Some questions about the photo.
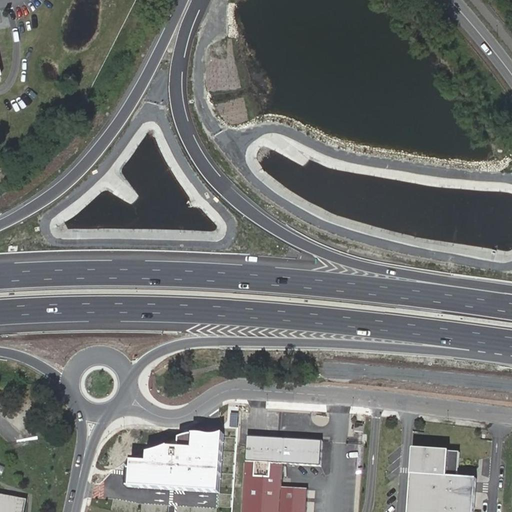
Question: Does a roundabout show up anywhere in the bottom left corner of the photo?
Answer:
Yes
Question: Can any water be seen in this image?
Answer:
Yes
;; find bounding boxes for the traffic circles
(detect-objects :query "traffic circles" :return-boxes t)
[61,346,138,422]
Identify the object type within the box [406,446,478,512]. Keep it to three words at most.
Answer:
building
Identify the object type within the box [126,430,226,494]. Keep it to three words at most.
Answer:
building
